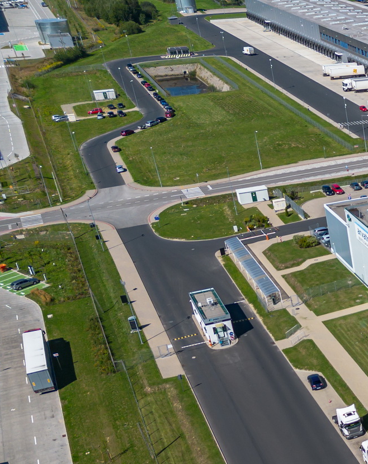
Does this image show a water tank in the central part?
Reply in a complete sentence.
No, the scene shows no water tank in the central part.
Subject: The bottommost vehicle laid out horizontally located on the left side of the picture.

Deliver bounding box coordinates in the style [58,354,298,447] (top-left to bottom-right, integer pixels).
[7,277,41,292]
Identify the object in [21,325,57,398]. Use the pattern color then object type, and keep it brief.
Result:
white truck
